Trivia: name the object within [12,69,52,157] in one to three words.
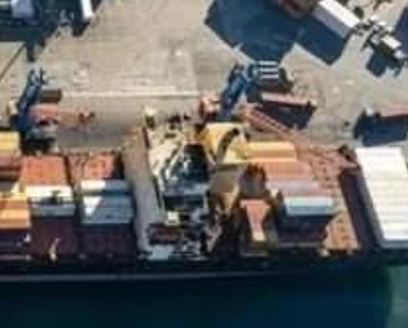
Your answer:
crane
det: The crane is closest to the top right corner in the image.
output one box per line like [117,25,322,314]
[186,66,265,138]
